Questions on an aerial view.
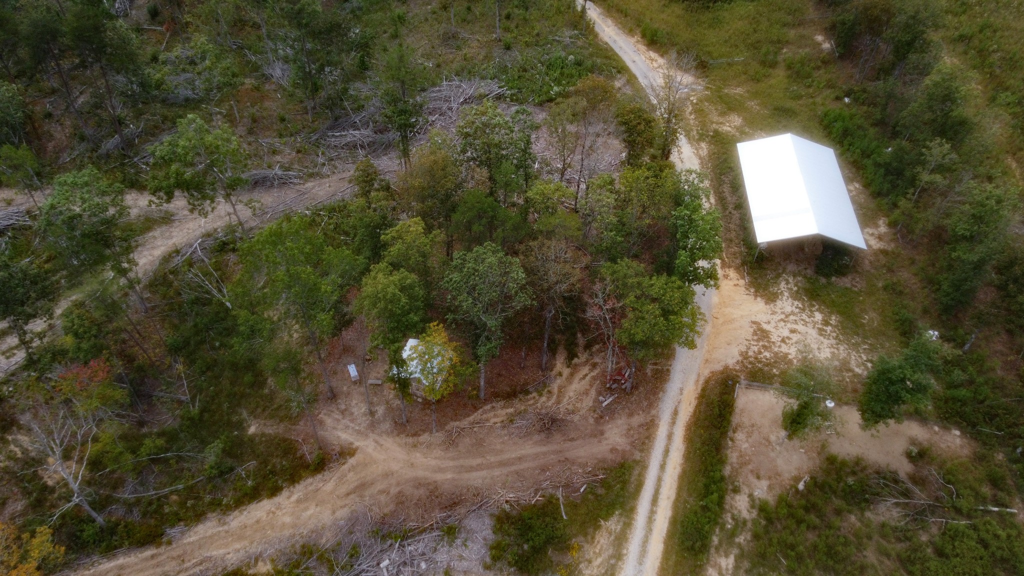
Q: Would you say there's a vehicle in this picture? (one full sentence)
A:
No, no vehicle is visible in the scene.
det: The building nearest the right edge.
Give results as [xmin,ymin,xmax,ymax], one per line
[736,134,869,268]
